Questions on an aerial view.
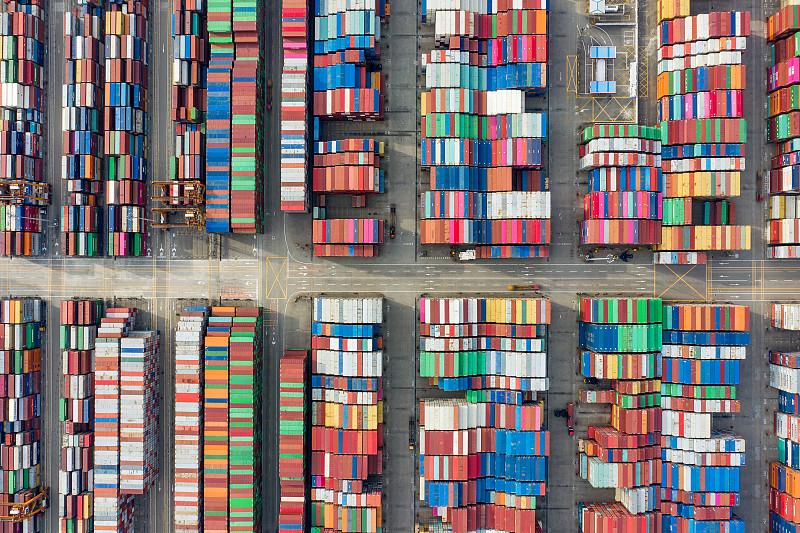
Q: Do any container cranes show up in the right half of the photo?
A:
No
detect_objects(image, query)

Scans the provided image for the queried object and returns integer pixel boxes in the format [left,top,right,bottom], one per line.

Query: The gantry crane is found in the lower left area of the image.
[0,485,50,520]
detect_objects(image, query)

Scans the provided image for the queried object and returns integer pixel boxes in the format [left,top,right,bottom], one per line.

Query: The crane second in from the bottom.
[145,208,207,232]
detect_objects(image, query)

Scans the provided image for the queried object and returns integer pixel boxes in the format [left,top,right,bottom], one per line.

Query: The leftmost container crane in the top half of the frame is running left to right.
[0,181,50,206]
